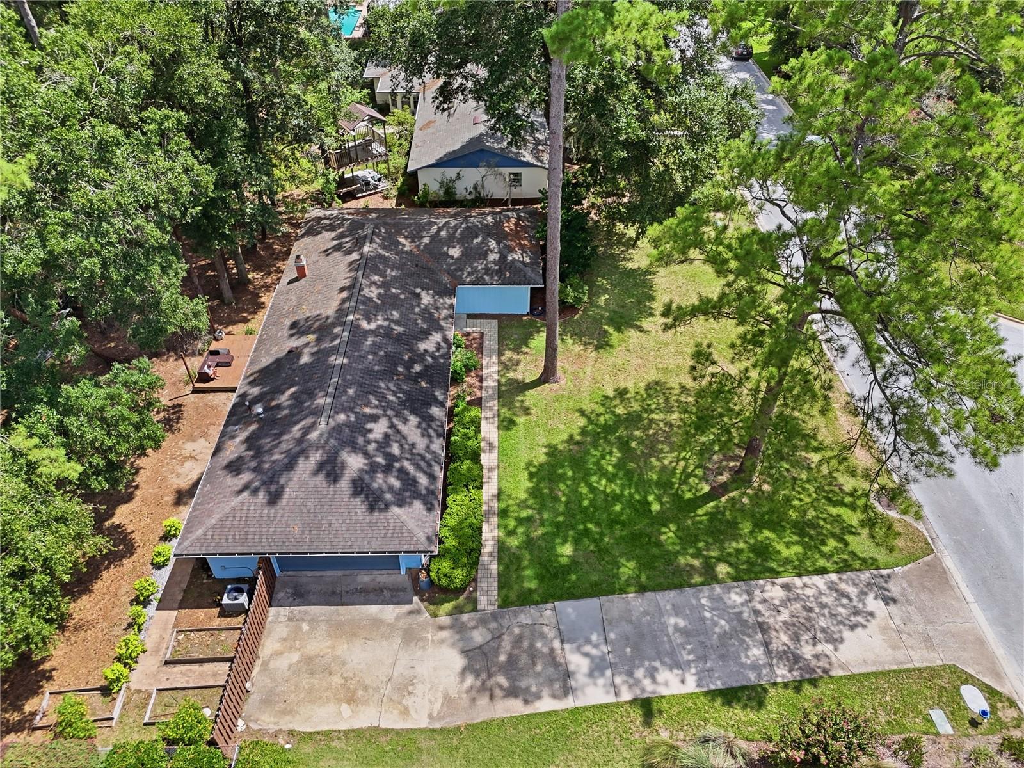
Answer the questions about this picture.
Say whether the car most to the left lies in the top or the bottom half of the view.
top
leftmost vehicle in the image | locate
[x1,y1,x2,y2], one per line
[722,34,750,56]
